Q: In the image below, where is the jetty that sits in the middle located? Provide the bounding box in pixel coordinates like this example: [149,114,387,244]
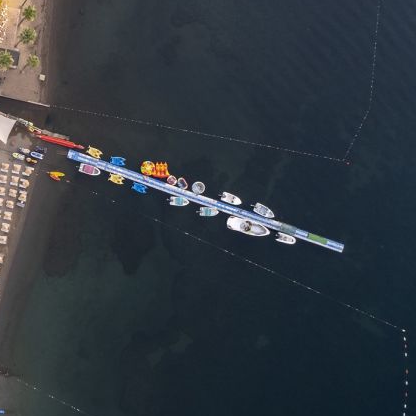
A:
[66,151,344,249]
